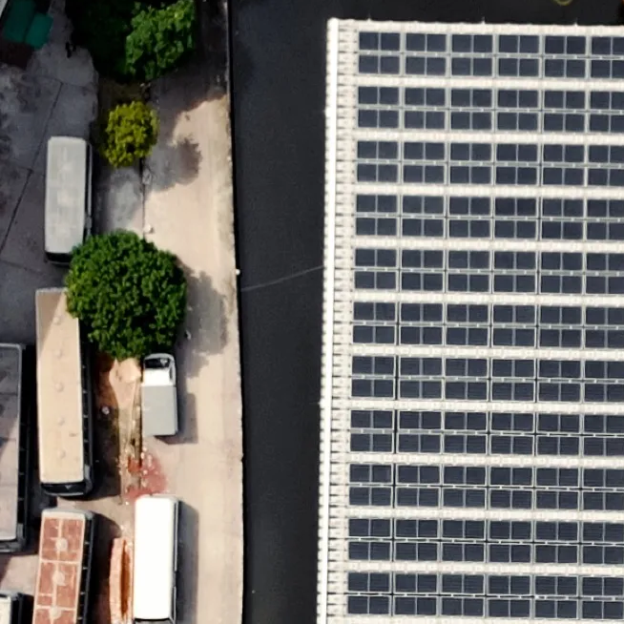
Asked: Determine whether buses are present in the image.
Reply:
Yes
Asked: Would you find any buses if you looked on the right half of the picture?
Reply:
No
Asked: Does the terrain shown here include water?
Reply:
Yes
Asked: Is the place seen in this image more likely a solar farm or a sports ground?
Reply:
solar farm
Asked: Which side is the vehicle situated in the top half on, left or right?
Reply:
left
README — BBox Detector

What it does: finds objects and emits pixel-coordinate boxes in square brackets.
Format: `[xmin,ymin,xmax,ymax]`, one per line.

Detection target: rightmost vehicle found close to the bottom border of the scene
[134,493,183,624]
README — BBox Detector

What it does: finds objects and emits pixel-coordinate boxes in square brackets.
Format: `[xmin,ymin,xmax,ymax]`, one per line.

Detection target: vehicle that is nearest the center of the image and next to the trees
[135,351,177,438]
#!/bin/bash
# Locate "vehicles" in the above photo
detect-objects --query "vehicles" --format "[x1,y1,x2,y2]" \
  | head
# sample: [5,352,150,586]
[47,138,100,268]
[135,351,177,438]
[0,587,26,624]
[0,343,38,555]
[134,493,183,624]
[35,503,100,624]
[38,290,97,497]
